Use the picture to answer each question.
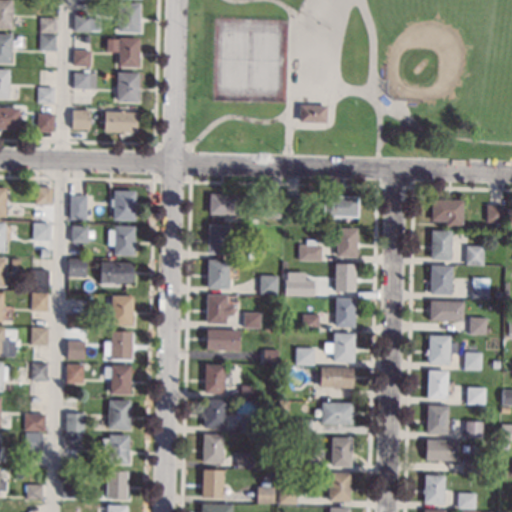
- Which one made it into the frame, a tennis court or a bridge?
tennis court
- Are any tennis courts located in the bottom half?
No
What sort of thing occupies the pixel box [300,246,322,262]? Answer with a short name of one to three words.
building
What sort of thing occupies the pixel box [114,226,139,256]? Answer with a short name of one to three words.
house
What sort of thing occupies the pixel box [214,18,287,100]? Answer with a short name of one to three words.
tennis court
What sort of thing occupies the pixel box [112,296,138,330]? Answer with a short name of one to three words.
house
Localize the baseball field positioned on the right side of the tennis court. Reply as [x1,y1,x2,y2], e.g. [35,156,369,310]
[372,0,512,134]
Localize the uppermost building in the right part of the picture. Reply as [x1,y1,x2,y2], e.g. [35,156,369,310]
[300,103,328,122]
